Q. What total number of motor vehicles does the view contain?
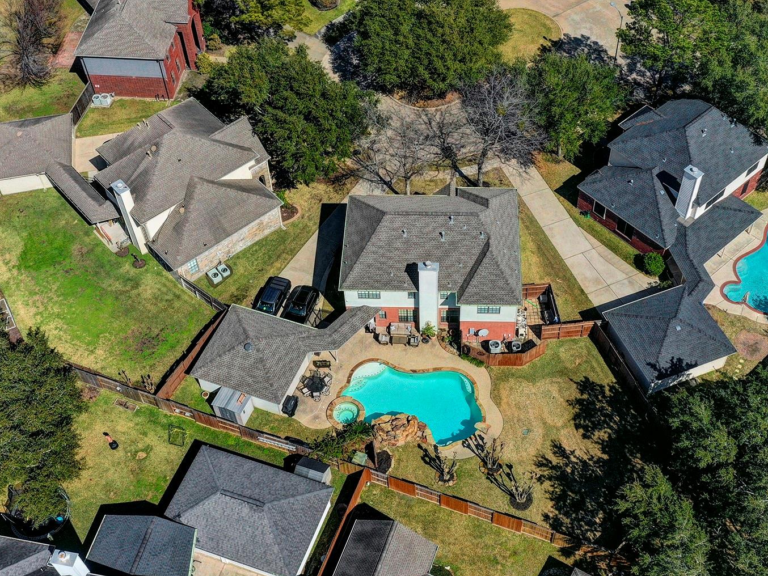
2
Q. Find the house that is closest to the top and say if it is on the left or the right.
left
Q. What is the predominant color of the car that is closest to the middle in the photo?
black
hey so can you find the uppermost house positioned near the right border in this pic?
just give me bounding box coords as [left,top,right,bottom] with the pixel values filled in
[576,91,768,305]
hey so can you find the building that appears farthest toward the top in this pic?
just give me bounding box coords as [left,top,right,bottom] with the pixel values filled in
[74,0,199,100]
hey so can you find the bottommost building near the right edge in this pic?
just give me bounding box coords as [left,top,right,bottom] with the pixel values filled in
[601,285,736,401]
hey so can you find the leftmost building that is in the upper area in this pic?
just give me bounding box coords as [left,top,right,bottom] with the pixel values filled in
[0,112,121,231]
